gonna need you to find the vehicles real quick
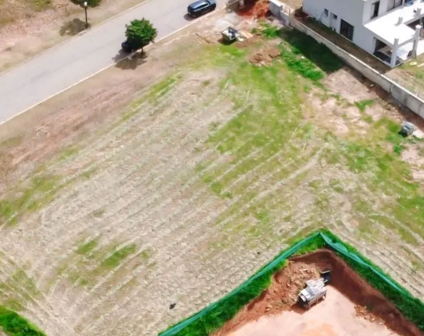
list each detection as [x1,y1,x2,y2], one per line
[297,275,331,309]
[120,38,152,55]
[185,0,216,19]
